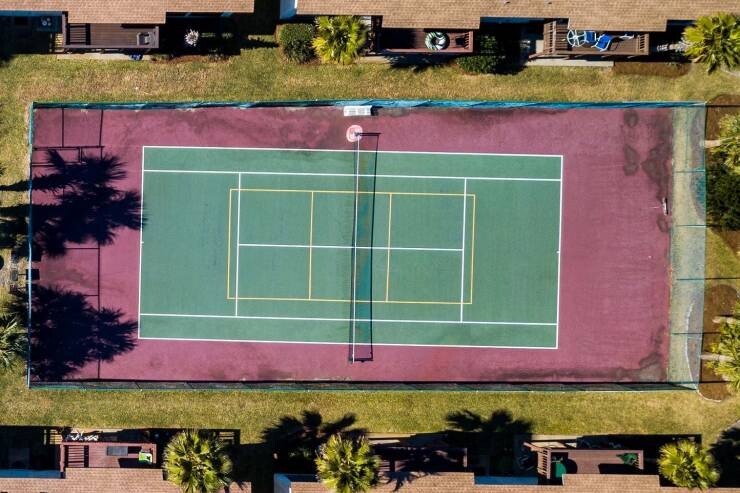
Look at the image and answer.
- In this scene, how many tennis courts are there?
1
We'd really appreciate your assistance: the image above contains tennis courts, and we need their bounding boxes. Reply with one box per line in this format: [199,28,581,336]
[30,107,670,383]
